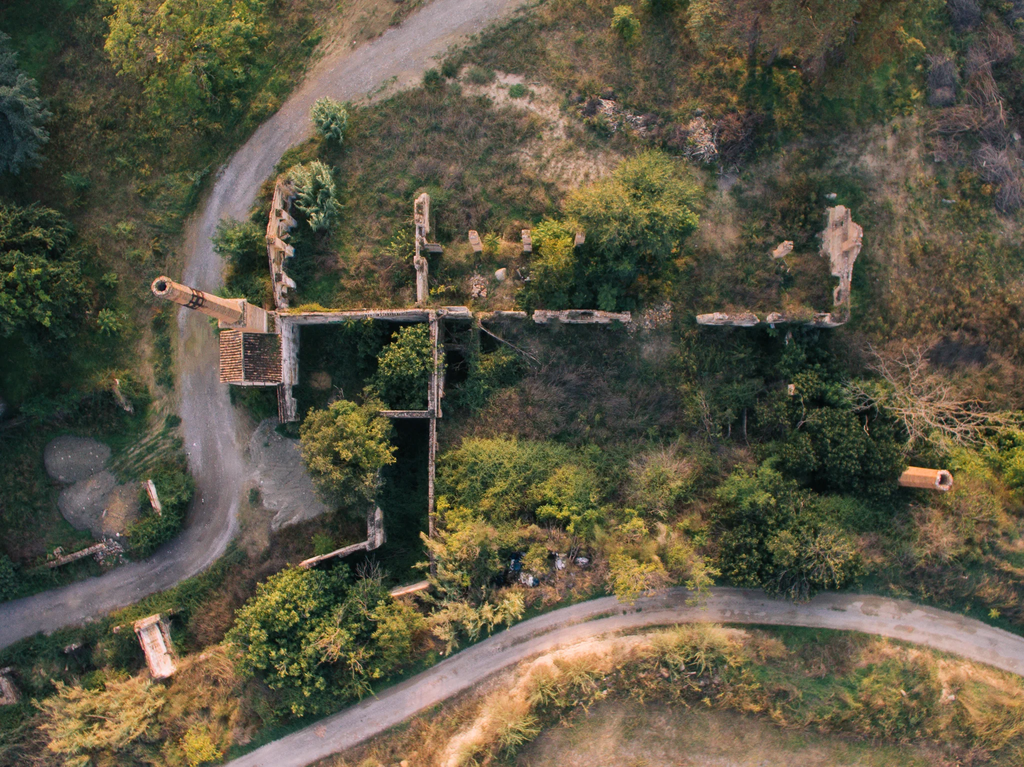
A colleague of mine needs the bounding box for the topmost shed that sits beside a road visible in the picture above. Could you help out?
[218,331,285,392]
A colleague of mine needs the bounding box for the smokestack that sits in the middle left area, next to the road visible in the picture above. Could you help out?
[155,279,277,333]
